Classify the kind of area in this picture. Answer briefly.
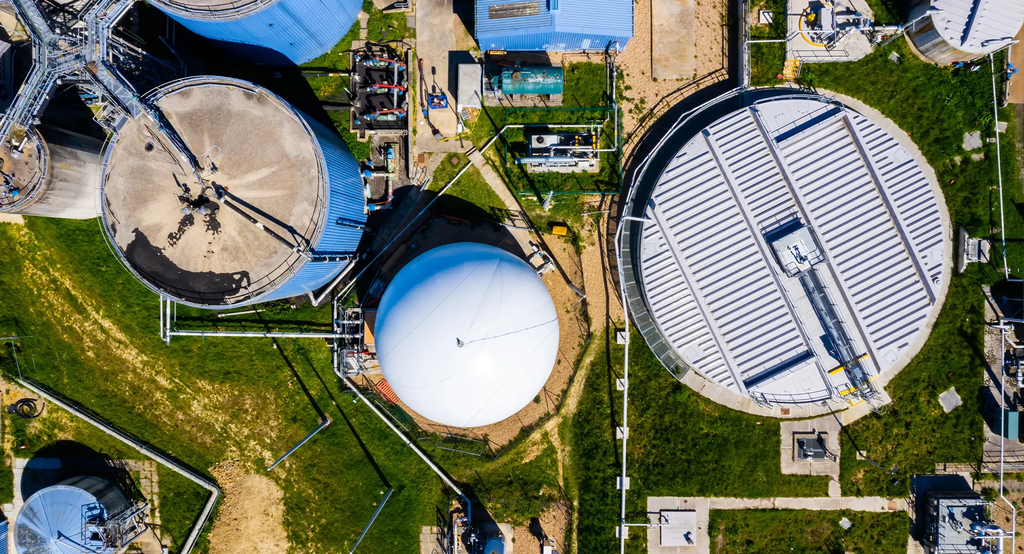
industrial area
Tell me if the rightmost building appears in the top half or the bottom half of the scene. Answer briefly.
bottom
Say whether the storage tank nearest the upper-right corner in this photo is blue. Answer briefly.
No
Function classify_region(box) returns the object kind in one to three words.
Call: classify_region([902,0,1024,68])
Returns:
storage tank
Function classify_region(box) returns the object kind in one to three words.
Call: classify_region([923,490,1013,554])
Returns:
building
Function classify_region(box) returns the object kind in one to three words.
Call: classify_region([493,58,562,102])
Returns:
storage tank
